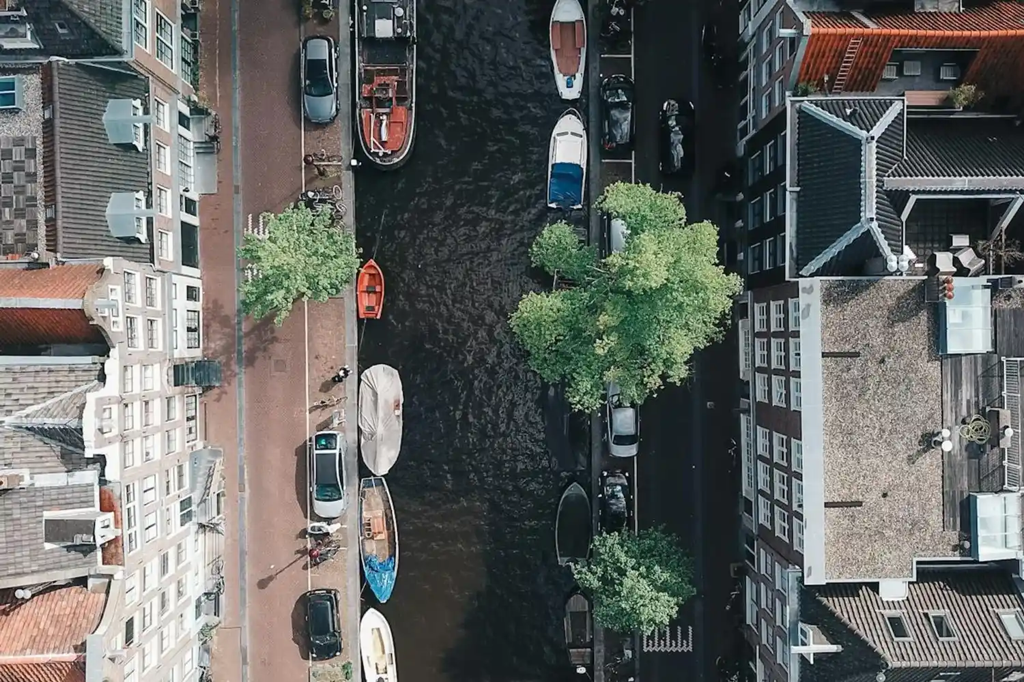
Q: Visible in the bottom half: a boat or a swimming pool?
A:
boat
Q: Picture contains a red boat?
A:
Yes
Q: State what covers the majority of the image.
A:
buildings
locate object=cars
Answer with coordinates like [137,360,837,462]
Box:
[598,467,635,539]
[657,98,699,179]
[602,377,643,458]
[305,587,344,662]
[307,432,348,517]
[599,74,639,153]
[297,35,339,125]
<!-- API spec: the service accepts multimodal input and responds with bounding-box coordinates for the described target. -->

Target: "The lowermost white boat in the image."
[361,607,397,682]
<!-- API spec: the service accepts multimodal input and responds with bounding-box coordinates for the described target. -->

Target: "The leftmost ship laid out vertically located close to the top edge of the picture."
[356,0,417,165]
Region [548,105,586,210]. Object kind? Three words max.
boat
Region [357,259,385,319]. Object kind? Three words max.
boat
